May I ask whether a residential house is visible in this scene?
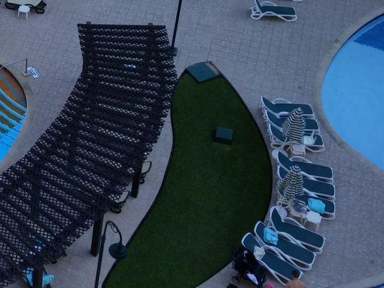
No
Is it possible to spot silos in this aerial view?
No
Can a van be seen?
No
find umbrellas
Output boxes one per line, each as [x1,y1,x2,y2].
[274,102,303,158]
[273,159,302,215]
